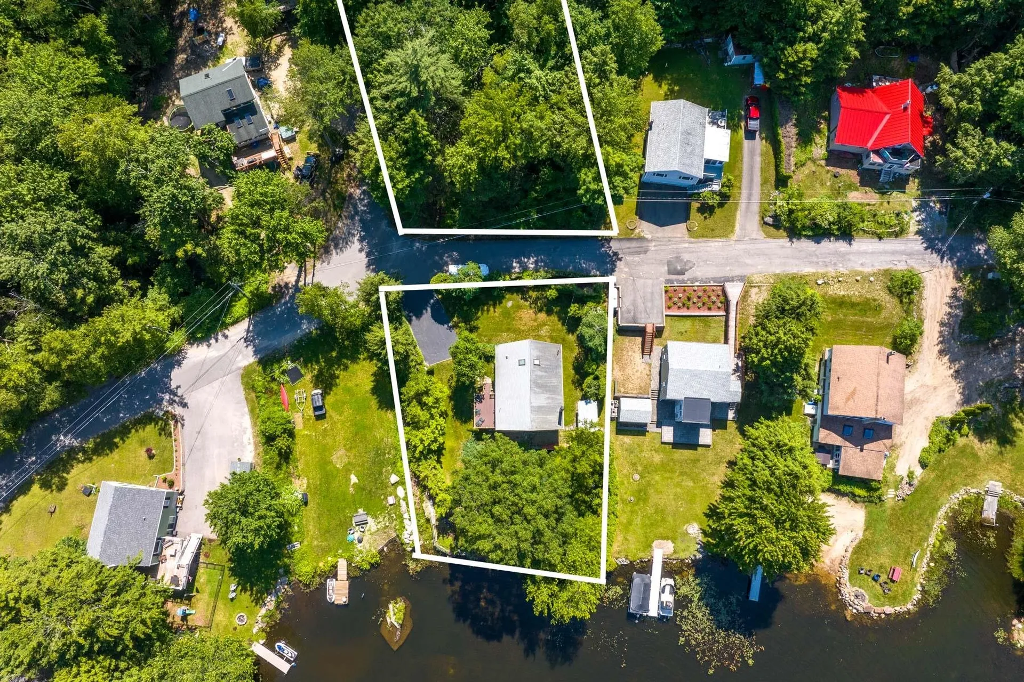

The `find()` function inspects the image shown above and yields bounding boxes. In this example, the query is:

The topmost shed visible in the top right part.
[729,33,763,65]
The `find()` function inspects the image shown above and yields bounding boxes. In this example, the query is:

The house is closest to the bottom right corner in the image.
[801,345,906,481]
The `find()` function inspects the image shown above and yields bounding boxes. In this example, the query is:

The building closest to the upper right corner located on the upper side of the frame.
[827,79,934,184]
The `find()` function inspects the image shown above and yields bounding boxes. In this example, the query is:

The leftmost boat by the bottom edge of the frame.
[274,645,297,662]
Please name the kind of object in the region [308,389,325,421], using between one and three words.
car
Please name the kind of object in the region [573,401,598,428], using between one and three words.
shed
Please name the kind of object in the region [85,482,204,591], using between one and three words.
house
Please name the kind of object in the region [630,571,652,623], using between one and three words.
boat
